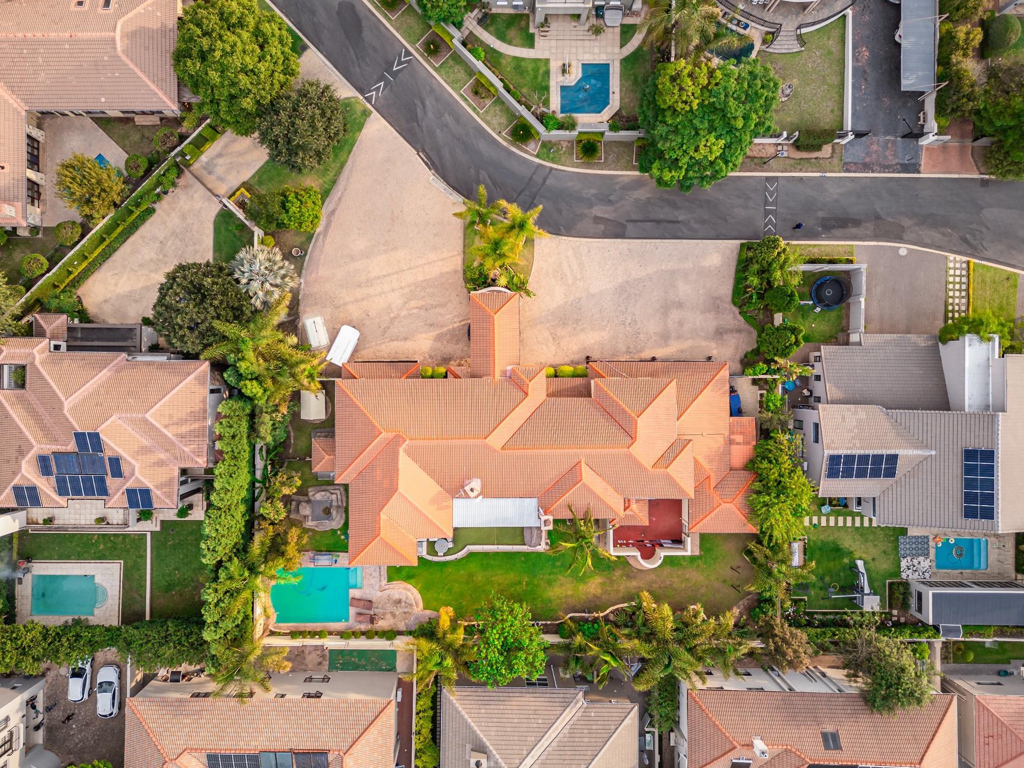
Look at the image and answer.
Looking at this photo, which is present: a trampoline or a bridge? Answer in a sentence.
Of the two, only a trampoline appears.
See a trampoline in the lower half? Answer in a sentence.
No, the scene shows no trampoline in the lower half.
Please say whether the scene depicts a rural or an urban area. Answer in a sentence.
The land in this view is best described as urban.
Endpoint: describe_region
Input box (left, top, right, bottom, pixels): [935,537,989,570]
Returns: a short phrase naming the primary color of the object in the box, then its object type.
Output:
blue swimming pool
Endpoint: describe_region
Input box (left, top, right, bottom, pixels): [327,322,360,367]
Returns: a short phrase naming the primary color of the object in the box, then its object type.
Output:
white trailer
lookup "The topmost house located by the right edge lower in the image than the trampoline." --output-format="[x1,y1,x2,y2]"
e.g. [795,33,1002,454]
[800,334,1024,534]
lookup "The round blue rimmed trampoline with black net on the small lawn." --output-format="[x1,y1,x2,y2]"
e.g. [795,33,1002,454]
[809,269,860,312]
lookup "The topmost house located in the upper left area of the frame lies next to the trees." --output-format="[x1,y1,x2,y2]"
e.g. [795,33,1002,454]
[0,0,199,227]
